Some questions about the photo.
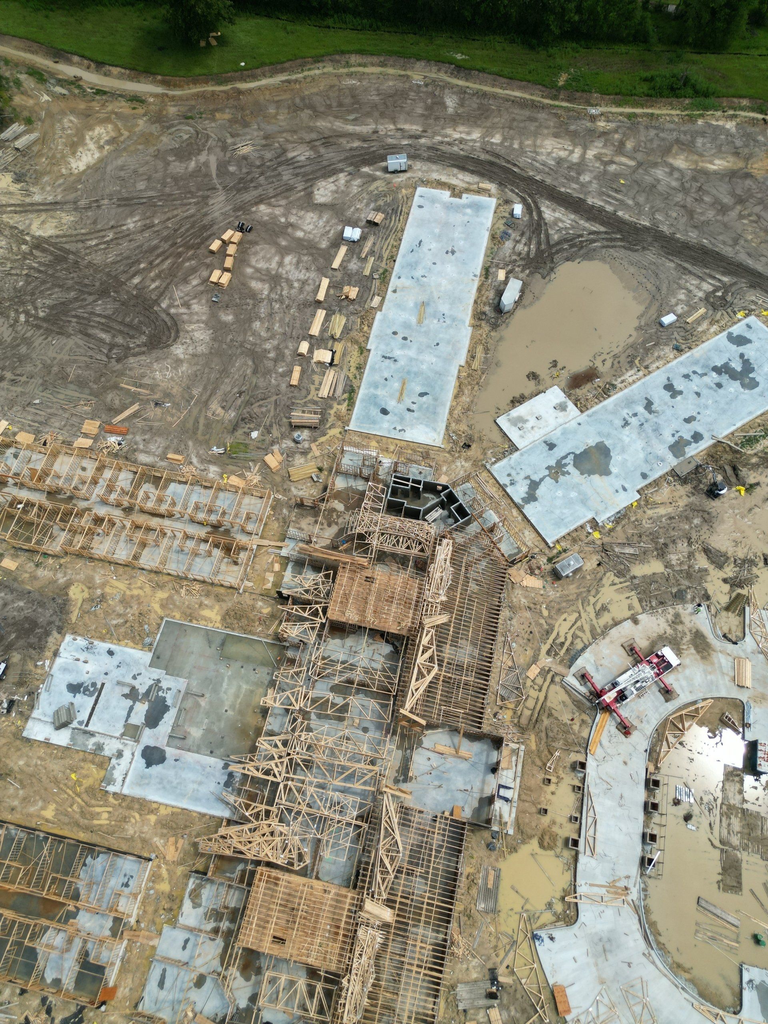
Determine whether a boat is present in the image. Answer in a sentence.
No, the scene contains no boat.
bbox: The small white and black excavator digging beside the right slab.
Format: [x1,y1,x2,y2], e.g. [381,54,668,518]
[697,463,726,499]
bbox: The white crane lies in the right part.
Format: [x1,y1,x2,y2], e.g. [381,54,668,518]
[576,639,688,730]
